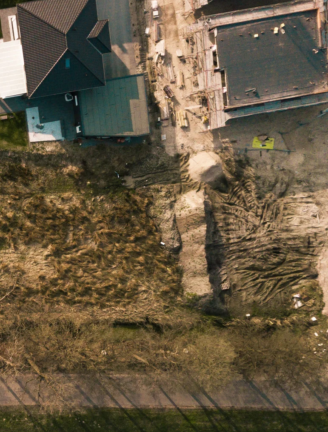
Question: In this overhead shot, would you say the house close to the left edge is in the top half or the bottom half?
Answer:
top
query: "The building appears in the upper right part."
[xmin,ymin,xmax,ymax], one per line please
[203,7,328,109]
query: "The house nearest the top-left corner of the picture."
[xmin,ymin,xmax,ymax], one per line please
[15,0,111,99]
